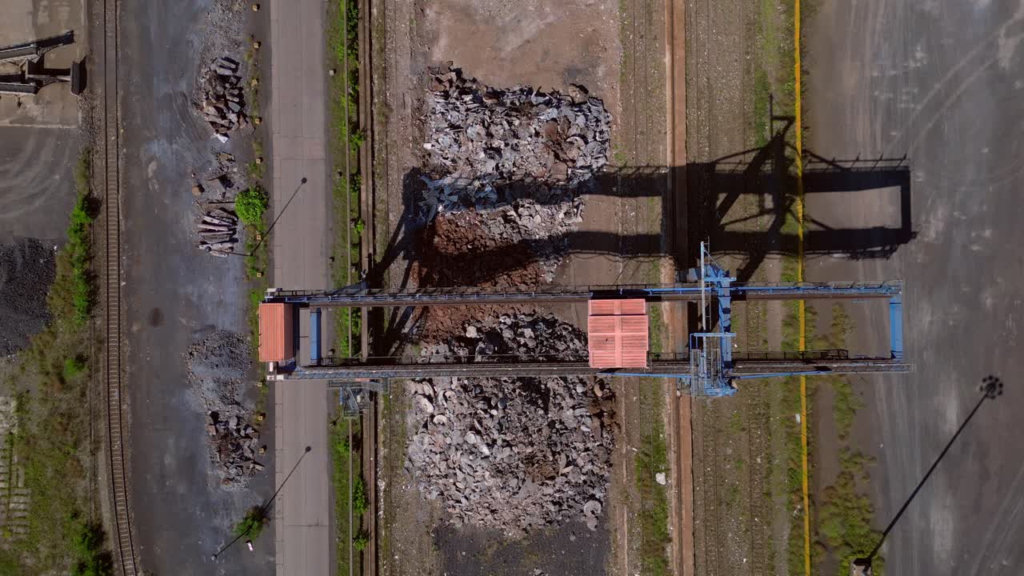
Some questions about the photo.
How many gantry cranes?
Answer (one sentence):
Only 1 gantry crane is visible.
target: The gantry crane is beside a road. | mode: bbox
[254,236,916,426]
